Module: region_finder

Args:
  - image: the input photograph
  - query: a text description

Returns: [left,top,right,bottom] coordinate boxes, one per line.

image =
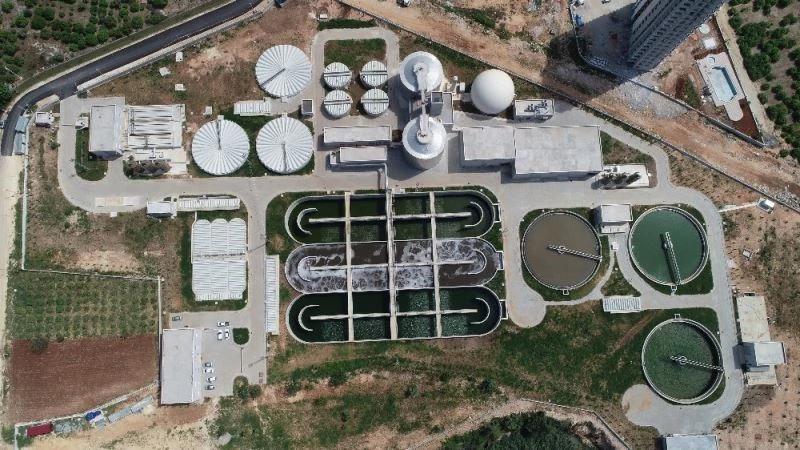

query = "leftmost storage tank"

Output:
[192,116,252,177]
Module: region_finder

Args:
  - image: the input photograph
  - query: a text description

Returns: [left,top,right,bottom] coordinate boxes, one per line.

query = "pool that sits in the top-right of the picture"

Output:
[697,52,744,121]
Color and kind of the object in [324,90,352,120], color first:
white storage tank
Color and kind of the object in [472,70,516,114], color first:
white storage tank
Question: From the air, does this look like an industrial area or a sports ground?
industrial area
